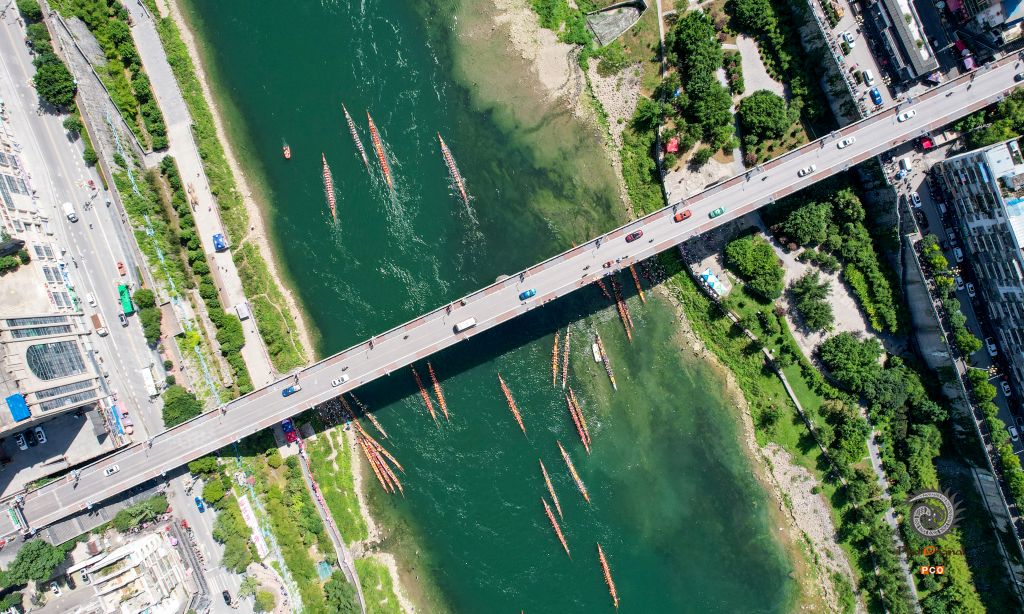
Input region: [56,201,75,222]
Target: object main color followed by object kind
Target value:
white vehicle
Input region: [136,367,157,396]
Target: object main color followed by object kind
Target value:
white bus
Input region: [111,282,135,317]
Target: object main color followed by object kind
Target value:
green truck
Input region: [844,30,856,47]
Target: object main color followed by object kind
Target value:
white vehicle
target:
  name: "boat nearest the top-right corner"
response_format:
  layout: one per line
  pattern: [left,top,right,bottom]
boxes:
[629,263,646,304]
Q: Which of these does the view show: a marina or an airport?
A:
marina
